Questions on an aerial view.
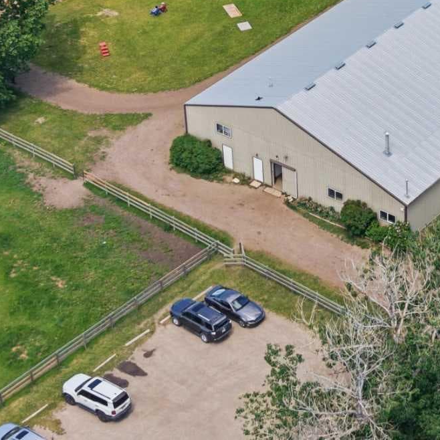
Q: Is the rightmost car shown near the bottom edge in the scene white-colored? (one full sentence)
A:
Yes, white is the color of the rightmost car shown near the bottom edge.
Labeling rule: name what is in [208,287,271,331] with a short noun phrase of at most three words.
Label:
car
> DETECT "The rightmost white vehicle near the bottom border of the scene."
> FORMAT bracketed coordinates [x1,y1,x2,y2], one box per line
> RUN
[59,378,132,426]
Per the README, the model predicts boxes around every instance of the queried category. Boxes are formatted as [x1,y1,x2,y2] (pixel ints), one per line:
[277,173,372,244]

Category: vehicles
[208,287,271,331]
[166,300,233,344]
[0,422,49,440]
[59,378,132,426]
